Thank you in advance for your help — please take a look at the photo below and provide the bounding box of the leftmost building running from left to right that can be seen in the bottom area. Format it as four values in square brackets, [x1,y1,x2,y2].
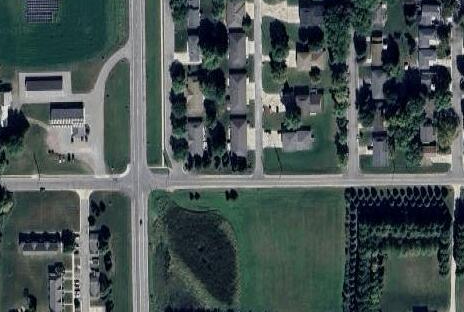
[21,240,60,256]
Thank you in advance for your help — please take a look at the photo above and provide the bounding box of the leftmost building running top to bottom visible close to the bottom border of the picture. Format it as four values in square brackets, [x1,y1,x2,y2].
[51,274,64,312]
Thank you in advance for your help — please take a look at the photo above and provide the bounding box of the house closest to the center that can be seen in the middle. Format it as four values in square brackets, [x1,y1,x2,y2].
[231,119,247,158]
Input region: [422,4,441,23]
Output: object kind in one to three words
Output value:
house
